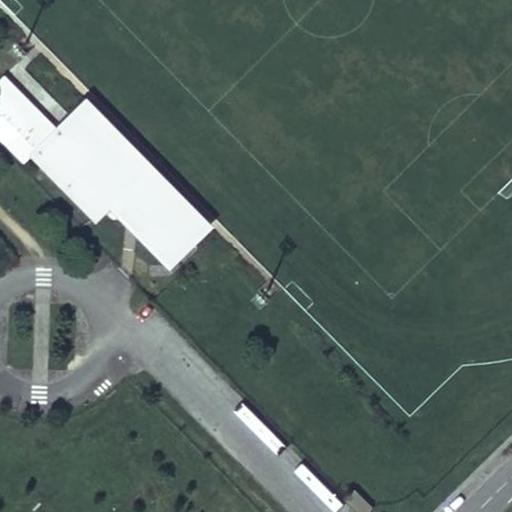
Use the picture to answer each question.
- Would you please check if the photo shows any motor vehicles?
Yes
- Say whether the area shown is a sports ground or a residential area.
sports ground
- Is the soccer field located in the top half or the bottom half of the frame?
top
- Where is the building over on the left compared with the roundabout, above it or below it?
above it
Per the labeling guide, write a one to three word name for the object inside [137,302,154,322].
car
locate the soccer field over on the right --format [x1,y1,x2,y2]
[104,0,512,298]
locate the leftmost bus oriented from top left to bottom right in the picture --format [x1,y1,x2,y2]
[234,402,288,457]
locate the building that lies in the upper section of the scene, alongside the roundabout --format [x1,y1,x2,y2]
[0,75,212,270]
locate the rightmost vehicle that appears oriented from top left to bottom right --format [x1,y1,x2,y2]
[294,462,346,512]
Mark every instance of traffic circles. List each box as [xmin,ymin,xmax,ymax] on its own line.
[0,257,151,410]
